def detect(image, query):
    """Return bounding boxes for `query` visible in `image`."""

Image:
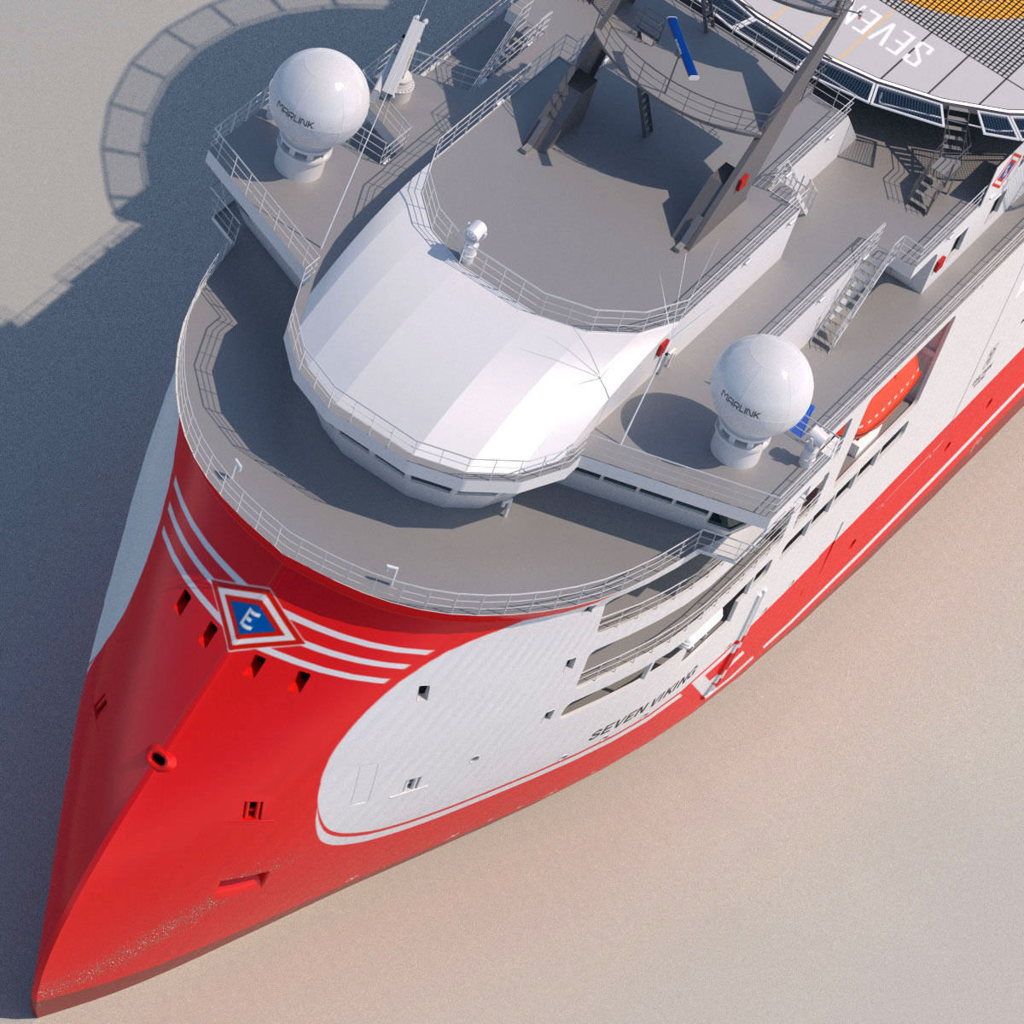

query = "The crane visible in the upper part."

[362,0,439,112]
